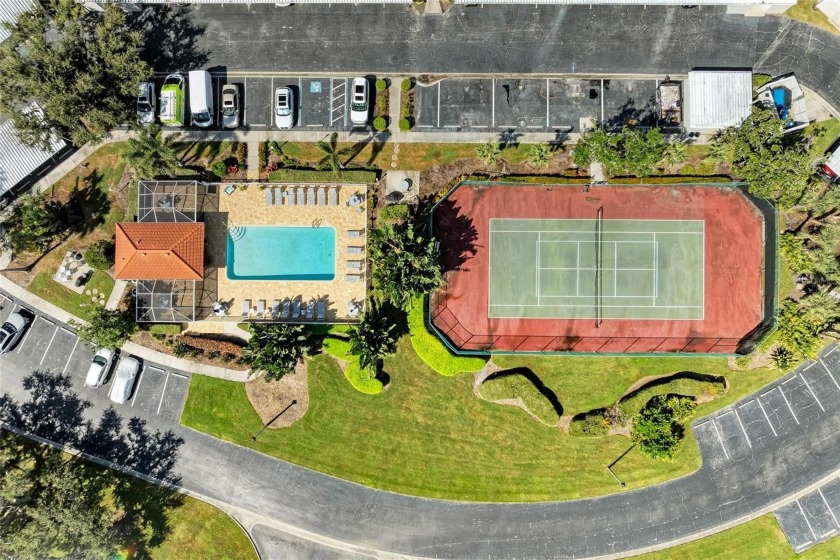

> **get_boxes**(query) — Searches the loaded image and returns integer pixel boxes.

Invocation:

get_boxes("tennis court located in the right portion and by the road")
[433,184,765,352]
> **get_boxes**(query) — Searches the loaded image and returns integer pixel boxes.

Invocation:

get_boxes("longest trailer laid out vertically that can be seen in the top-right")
[659,75,682,125]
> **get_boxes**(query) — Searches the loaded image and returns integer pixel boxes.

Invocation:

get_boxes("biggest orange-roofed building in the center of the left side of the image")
[113,221,208,280]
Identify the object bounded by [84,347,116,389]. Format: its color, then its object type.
white car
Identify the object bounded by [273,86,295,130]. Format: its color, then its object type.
white car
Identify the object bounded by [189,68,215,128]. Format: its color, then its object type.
white vehicle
